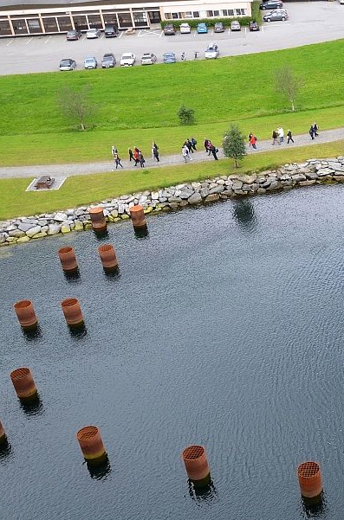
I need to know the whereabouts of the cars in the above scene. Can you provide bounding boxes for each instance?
[247,19,260,30]
[203,44,217,58]
[264,9,290,21]
[139,51,154,64]
[179,20,192,31]
[105,21,121,36]
[59,56,76,70]
[212,19,225,30]
[229,17,242,29]
[100,50,117,67]
[86,24,102,37]
[82,53,99,68]
[65,26,82,39]
[196,19,209,31]
[163,21,177,34]
[161,48,177,62]
[119,50,136,65]
[263,0,282,9]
